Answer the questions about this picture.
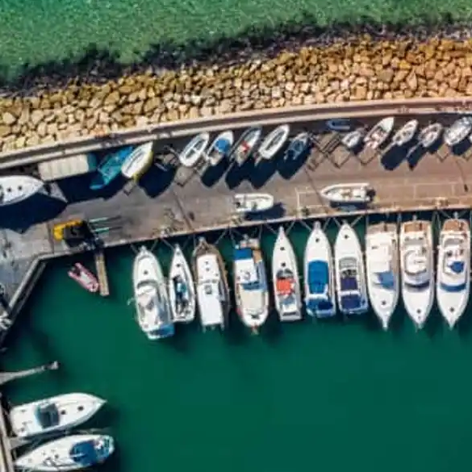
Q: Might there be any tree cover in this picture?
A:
No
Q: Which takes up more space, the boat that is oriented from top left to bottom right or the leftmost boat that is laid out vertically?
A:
the leftmost boat that is laid out vertically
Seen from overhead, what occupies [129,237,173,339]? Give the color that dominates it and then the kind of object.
white boat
